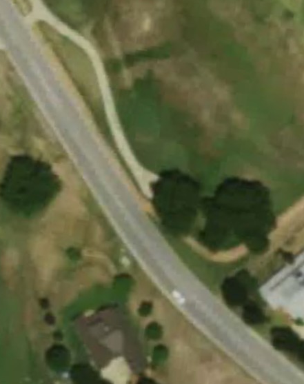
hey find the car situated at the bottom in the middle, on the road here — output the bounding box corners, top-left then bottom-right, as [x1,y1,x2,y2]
[171,289,185,304]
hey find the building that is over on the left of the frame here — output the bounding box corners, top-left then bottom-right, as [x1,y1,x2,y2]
[77,297,151,374]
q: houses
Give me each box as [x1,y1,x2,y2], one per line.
[77,297,151,374]
[258,248,304,319]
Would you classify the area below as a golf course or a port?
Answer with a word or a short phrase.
golf course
